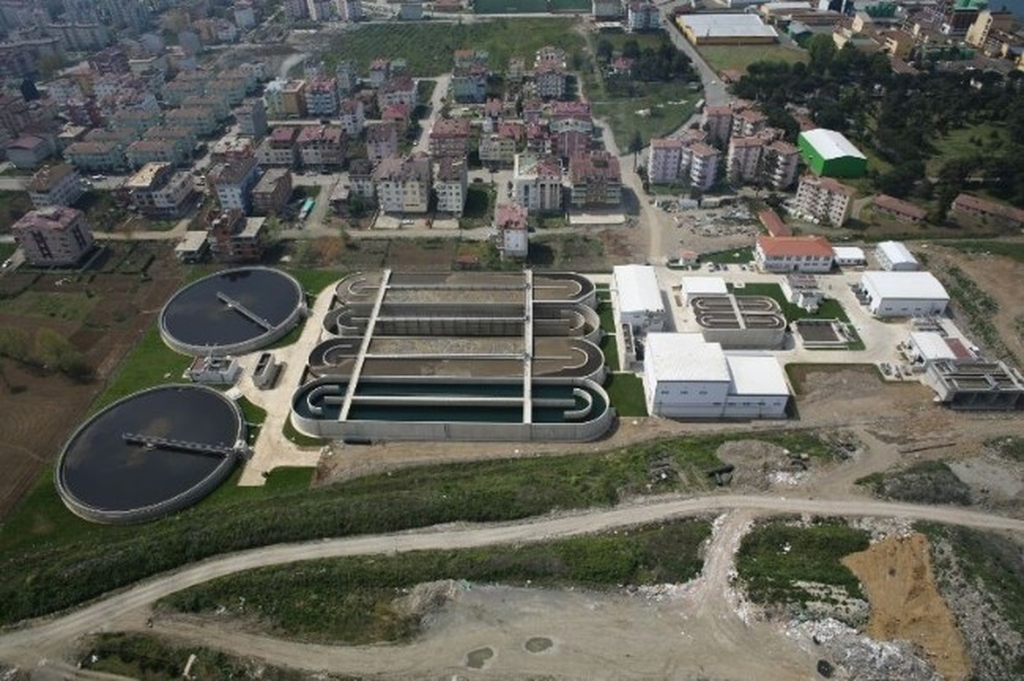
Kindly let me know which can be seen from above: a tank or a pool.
tank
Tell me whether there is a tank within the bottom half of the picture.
Yes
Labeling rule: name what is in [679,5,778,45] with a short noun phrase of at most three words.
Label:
building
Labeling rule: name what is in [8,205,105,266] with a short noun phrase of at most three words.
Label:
building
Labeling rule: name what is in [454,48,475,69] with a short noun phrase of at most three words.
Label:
house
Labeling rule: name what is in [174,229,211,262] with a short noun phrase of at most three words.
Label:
house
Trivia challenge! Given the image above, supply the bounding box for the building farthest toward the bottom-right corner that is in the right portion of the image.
[905,327,961,369]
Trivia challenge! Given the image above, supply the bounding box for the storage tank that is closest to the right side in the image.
[925,358,1024,410]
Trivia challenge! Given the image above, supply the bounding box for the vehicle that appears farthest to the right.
[965,336,990,355]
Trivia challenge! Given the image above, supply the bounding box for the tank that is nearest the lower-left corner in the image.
[56,382,262,529]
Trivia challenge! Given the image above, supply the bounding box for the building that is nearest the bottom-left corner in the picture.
[186,342,240,382]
